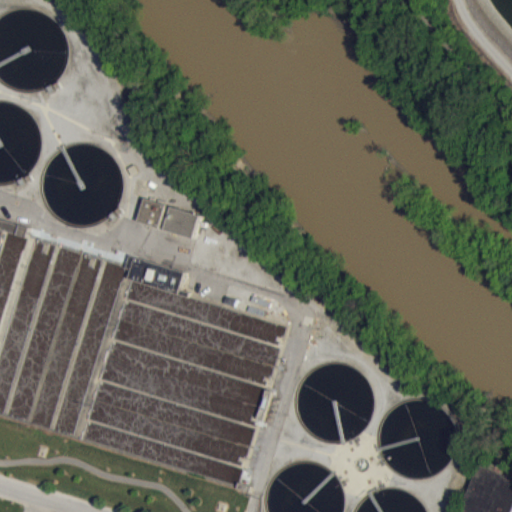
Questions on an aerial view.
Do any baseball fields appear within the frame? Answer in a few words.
No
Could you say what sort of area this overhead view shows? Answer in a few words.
industrial area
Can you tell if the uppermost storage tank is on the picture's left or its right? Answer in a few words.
left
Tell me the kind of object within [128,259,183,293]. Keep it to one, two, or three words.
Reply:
building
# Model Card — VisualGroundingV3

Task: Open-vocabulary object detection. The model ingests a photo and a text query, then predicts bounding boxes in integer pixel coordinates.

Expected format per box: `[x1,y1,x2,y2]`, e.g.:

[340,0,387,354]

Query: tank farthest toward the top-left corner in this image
[0,4,72,97]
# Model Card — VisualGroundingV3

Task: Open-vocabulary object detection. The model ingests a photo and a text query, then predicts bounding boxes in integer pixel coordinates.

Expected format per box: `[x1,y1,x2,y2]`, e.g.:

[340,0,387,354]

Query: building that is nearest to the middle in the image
[162,207,202,238]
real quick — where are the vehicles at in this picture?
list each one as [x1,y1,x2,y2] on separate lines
[196,282,201,292]
[1,206,10,218]
[222,296,241,306]
[200,286,211,297]
[18,218,29,224]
